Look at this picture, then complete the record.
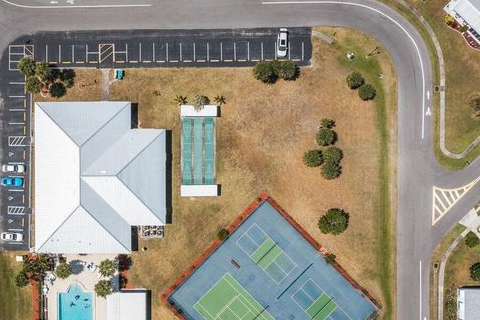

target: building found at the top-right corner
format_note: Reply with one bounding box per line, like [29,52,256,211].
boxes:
[449,0,480,40]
